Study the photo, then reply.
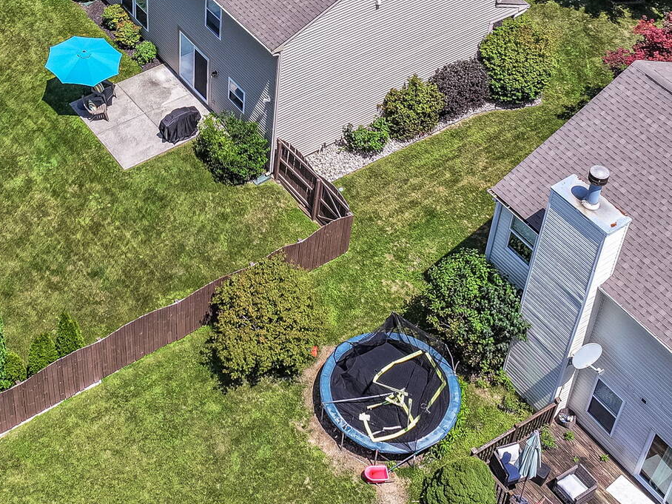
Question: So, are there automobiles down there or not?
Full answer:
No, there isn't any automobile down there.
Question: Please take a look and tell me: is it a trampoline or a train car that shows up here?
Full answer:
There is a trampoline in the scene.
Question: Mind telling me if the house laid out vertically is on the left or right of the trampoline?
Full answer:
Compared with the trampoline, the house laid out vertically is located further to the right.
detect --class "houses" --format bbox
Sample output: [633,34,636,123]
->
[105,0,533,175]
[478,60,672,504]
